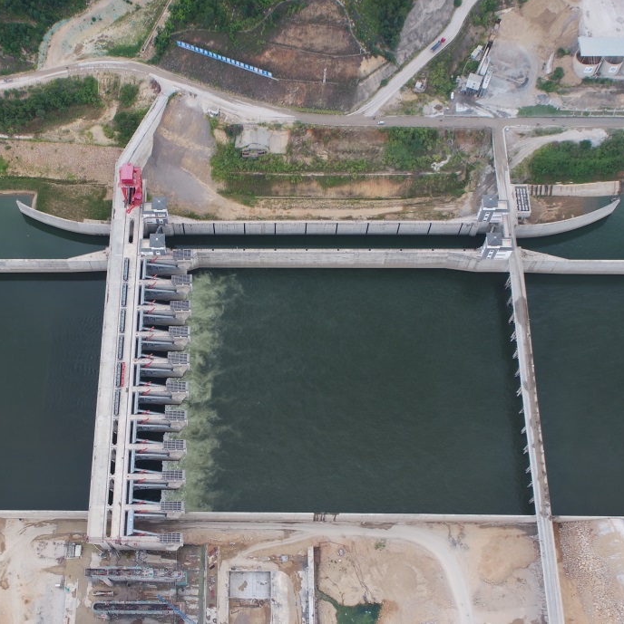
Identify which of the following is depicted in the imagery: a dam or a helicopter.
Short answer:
dam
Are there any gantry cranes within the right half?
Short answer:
No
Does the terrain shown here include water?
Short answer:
Yes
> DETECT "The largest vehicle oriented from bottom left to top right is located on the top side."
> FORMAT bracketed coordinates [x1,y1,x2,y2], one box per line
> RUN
[429,35,446,51]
